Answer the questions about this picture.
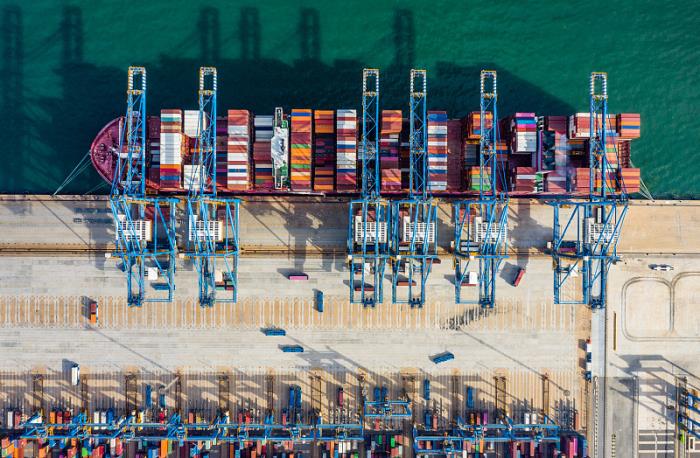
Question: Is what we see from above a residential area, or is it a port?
port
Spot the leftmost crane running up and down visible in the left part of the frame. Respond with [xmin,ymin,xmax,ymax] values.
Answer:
[107,65,187,308]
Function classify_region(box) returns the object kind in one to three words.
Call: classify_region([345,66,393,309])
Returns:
container crane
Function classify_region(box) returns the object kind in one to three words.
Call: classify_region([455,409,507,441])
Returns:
crane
